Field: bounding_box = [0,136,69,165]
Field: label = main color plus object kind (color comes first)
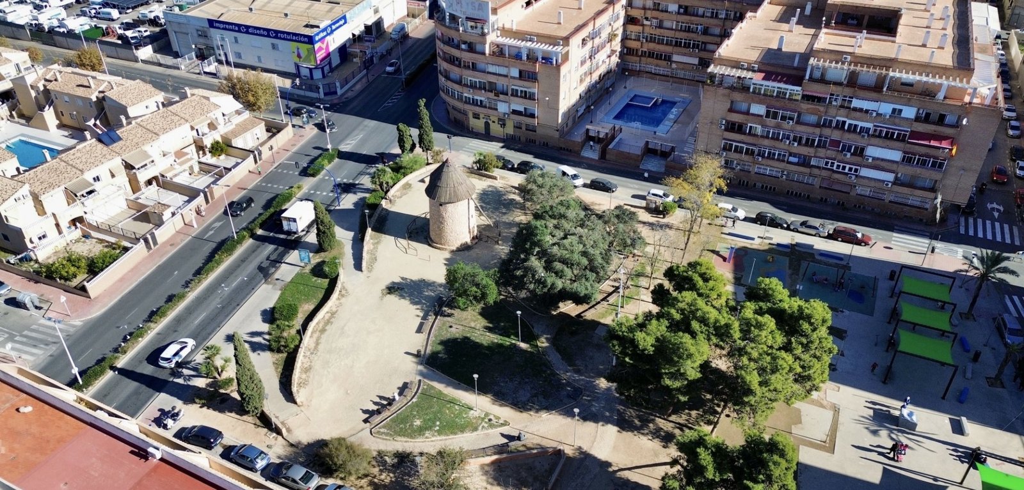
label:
blue swimming pool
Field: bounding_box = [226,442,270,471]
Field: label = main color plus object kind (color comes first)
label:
blue car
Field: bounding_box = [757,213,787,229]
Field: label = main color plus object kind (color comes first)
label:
black car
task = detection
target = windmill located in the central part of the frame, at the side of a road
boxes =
[424,160,493,251]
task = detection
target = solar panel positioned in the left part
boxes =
[96,130,125,146]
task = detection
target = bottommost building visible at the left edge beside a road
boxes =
[0,354,289,490]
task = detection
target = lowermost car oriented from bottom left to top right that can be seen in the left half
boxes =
[160,338,197,365]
